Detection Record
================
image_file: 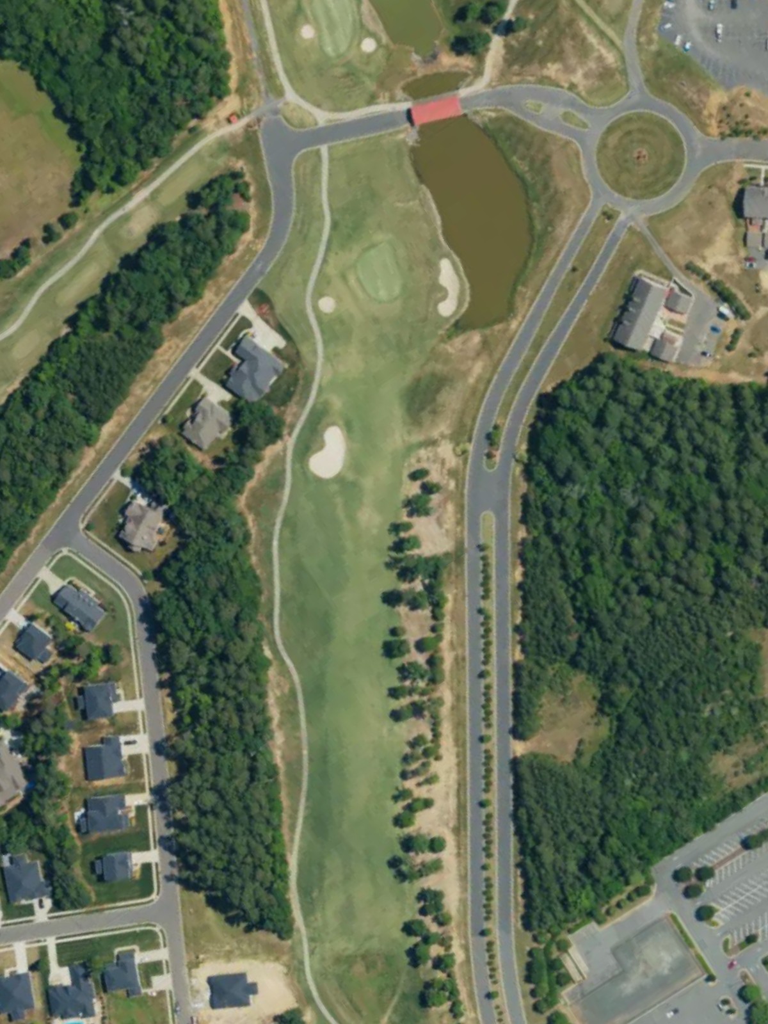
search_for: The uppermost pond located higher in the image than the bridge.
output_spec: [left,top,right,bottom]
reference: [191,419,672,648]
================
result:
[368,0,442,56]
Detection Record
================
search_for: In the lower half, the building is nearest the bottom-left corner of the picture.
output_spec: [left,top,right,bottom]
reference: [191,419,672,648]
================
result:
[0,972,36,1021]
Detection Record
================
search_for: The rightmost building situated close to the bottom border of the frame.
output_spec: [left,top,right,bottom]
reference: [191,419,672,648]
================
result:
[207,974,260,1008]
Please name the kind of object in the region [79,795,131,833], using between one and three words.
house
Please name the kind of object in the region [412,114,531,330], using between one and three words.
pond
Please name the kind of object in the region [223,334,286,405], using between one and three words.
house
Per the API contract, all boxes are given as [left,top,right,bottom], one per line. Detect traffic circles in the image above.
[583,98,699,213]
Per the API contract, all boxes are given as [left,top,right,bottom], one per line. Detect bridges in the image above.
[409,89,463,127]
